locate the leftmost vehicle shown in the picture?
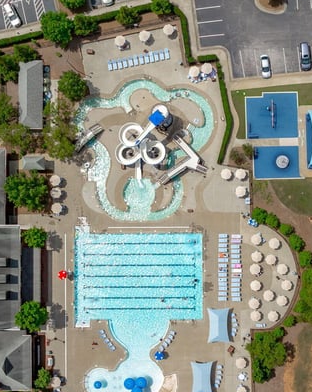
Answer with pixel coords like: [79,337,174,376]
[3,2,20,30]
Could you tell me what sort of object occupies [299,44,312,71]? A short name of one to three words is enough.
vehicle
